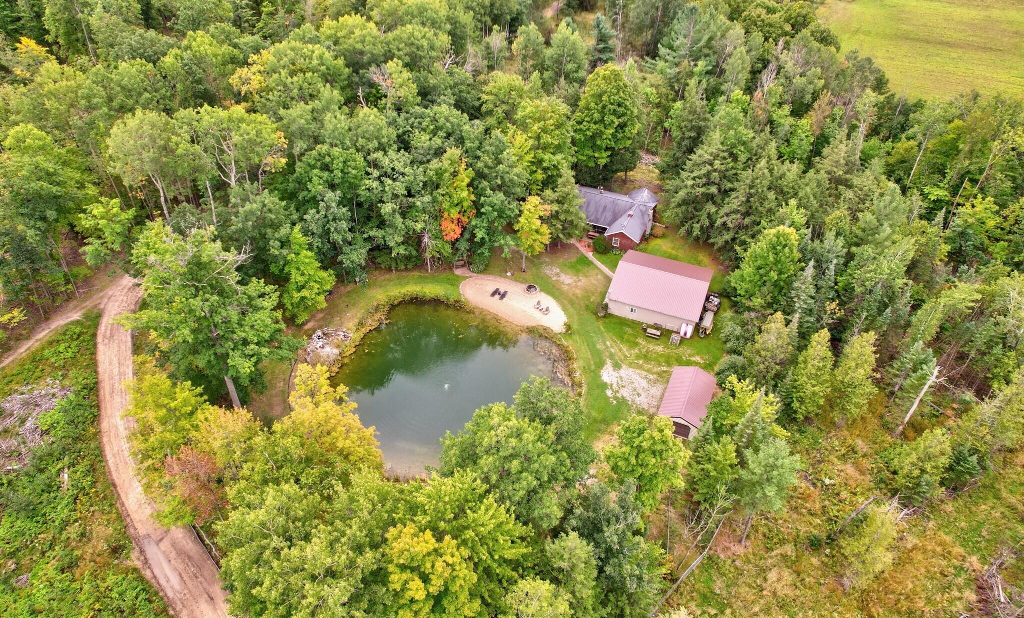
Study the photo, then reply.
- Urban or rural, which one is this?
rural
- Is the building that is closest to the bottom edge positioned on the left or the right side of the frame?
right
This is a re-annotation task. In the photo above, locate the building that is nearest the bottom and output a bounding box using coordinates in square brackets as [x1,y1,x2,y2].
[656,366,715,441]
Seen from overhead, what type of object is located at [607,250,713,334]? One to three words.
barn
